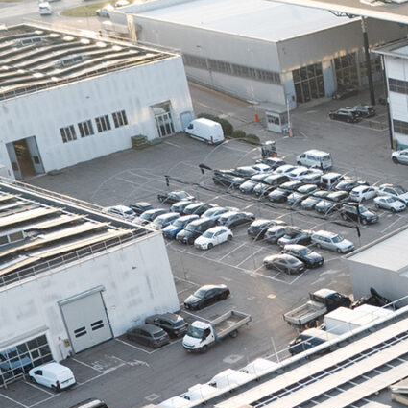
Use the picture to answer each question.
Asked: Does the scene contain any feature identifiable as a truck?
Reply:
Yes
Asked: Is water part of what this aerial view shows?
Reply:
No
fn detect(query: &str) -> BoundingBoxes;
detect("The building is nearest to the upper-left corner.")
[0,13,197,186]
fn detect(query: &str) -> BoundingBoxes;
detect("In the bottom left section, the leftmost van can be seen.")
[26,361,79,392]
